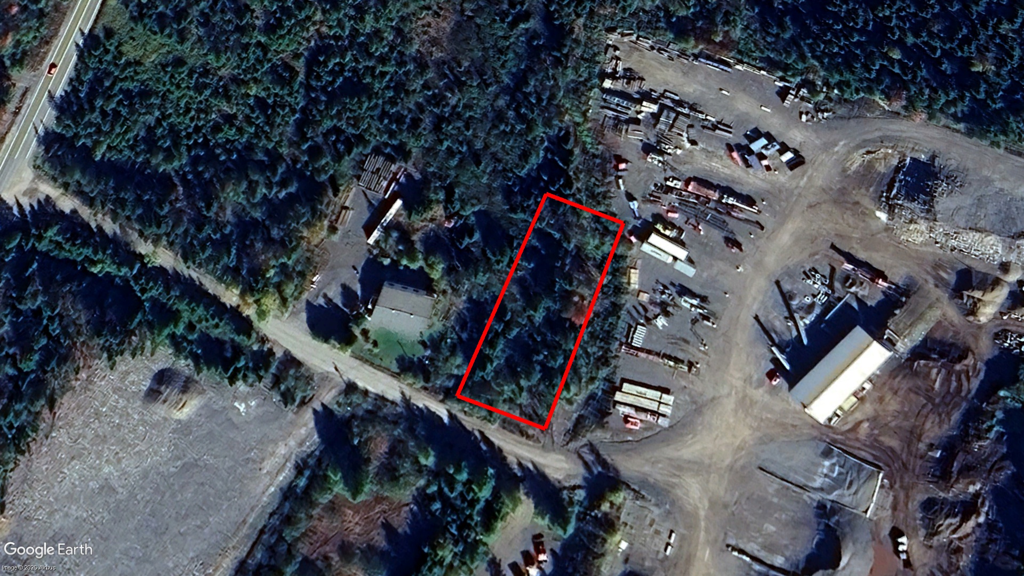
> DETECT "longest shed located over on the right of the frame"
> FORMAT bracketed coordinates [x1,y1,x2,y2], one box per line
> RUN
[790,320,893,424]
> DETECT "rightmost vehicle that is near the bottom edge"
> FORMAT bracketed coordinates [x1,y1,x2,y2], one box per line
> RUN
[893,531,909,561]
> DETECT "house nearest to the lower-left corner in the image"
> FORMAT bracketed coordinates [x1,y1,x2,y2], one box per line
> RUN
[368,276,434,338]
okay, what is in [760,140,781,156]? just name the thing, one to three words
vehicle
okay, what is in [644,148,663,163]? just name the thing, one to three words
work vehicle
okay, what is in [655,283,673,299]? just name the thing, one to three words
work vehicle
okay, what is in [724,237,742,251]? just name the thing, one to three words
car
